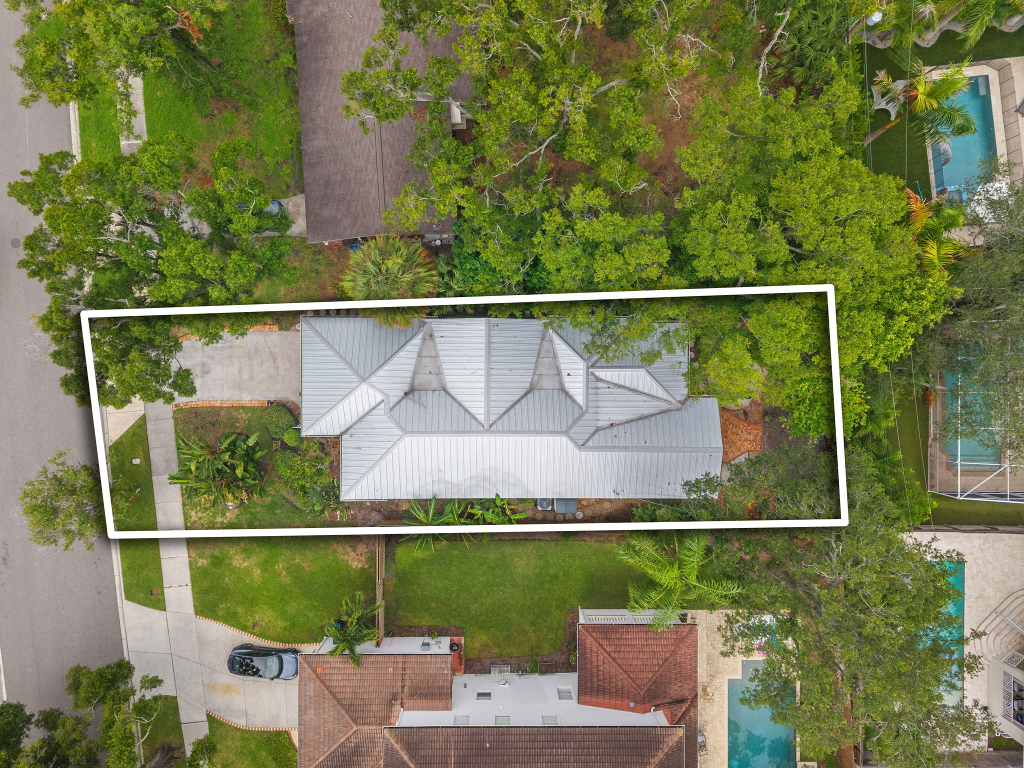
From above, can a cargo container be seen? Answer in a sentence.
No, the photo shows no cargo container.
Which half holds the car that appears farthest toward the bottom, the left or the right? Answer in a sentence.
The car that appears farthest toward the bottom sits on the left side.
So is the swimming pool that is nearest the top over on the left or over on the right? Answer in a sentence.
It is on the right.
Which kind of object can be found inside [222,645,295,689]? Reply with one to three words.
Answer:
car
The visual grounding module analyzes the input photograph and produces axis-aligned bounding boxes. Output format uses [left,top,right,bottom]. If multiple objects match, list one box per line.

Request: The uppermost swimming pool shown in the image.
[924,66,1013,217]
